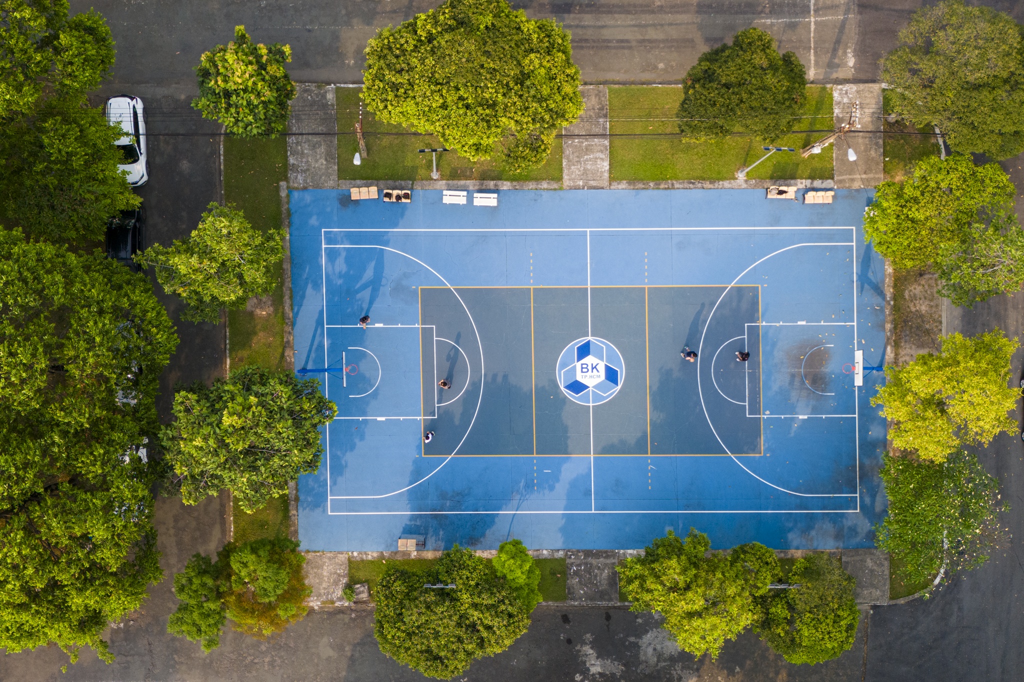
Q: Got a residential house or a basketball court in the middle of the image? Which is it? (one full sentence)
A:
There is a basketball court in the middle of the image.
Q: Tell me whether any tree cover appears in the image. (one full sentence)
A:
Yes, there is tree cover in the image.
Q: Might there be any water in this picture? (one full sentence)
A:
No, no water is visible.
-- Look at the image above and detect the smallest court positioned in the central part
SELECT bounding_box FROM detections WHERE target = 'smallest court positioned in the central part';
[412,253,770,490]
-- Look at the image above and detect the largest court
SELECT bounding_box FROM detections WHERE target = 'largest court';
[289,188,889,552]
